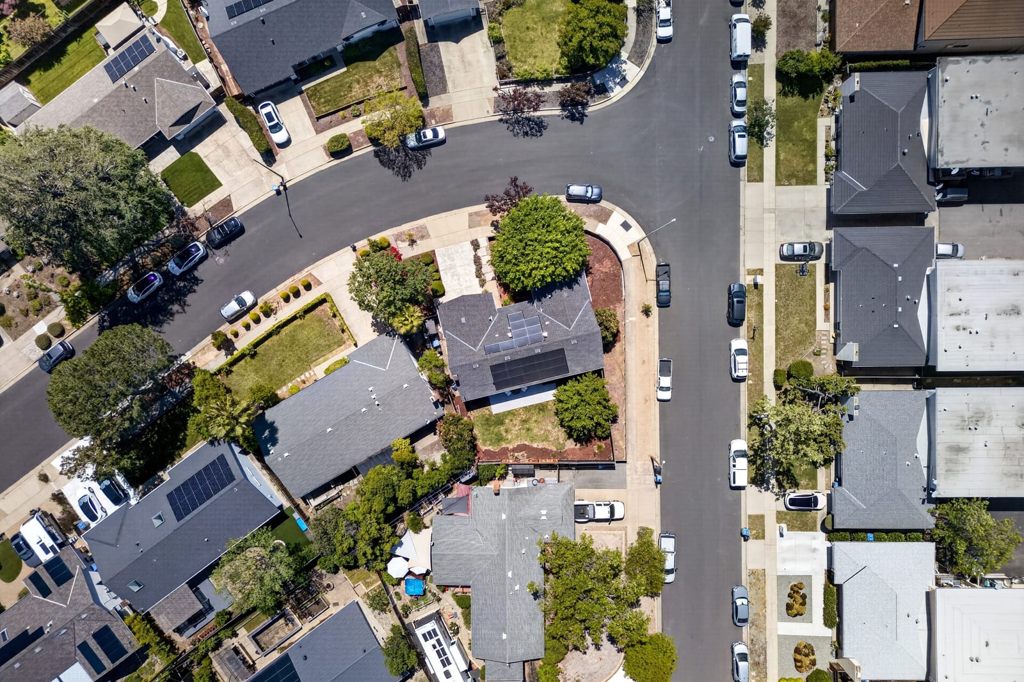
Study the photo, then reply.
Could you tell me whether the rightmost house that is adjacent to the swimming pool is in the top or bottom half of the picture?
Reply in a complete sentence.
It is in the bottom half that the rightmost house that is adjacent to the swimming pool appears.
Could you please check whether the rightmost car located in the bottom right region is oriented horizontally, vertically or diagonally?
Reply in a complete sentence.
I'd say the rightmost car located in the bottom right region is aligned horizontally in the picture.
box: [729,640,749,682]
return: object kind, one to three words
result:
car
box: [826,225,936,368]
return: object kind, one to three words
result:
house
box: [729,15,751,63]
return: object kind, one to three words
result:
vehicle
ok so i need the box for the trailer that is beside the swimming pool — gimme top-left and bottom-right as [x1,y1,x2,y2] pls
[411,599,469,682]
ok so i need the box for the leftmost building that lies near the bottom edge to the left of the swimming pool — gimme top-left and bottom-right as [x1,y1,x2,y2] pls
[0,544,144,682]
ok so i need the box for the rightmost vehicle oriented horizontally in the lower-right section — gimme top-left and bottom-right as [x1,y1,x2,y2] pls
[782,492,825,513]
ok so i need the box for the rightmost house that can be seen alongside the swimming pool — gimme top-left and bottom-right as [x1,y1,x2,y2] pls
[430,479,575,665]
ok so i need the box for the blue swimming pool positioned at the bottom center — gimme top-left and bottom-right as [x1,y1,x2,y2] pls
[404,579,423,598]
